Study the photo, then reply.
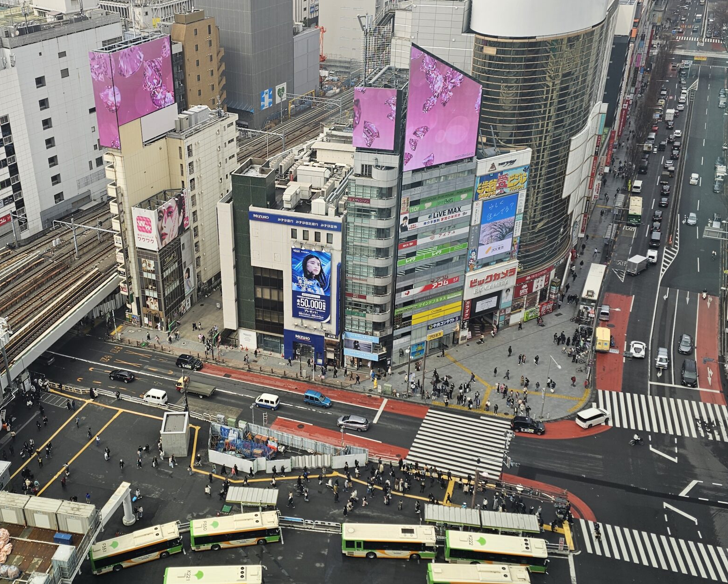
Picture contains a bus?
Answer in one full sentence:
Yes, the frame does contain a bus.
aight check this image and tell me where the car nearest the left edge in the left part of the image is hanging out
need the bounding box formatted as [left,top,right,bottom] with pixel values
[37,351,61,366]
